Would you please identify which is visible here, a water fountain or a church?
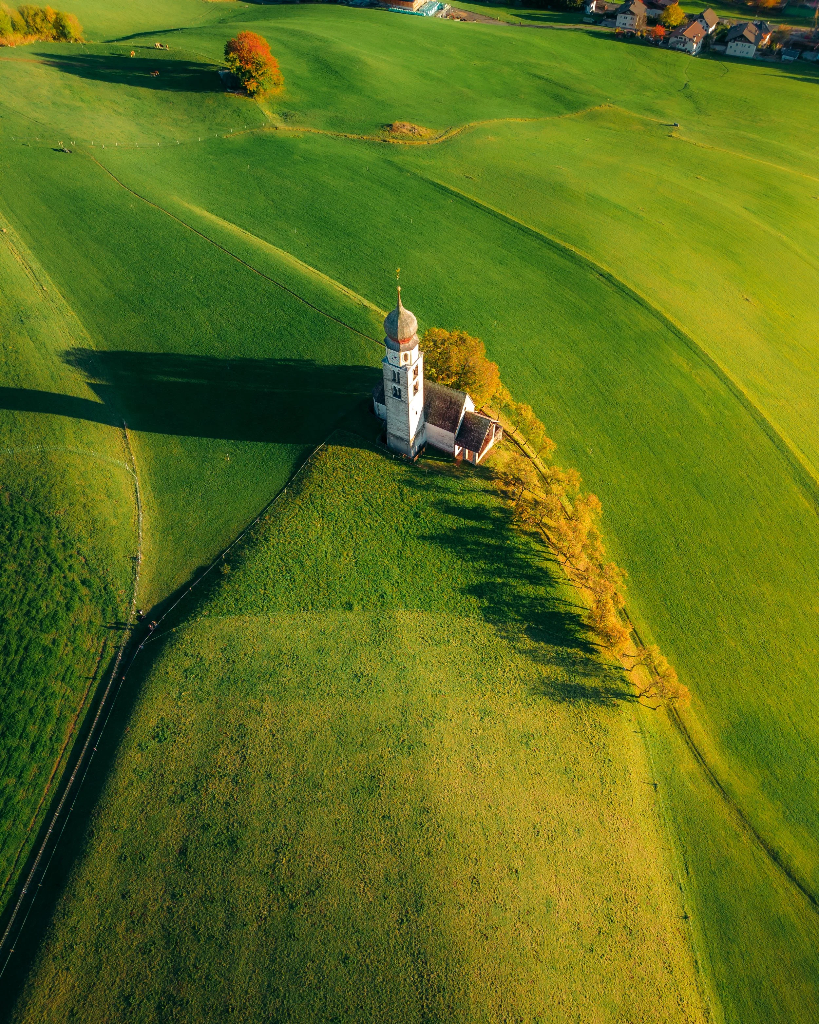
church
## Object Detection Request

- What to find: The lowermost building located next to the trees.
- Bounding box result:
[367,268,504,464]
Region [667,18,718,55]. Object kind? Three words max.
house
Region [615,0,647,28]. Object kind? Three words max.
house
